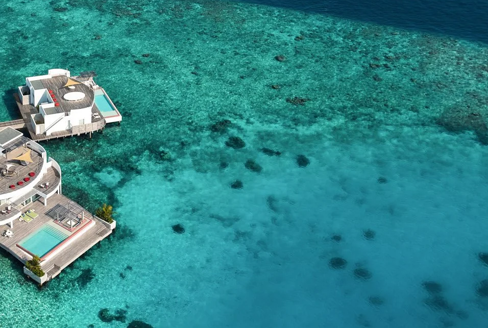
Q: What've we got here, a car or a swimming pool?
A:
swimming pool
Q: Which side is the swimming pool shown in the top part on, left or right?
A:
left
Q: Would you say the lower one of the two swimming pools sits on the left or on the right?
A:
left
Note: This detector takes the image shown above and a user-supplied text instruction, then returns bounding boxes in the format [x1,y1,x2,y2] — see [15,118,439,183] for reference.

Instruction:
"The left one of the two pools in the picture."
[15,207,96,265]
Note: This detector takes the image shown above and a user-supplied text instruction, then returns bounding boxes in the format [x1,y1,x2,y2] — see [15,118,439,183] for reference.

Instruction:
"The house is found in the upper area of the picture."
[11,66,106,150]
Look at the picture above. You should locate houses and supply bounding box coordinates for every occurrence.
[11,66,106,150]
[0,127,117,298]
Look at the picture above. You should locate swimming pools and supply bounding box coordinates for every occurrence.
[92,86,123,124]
[15,207,96,265]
